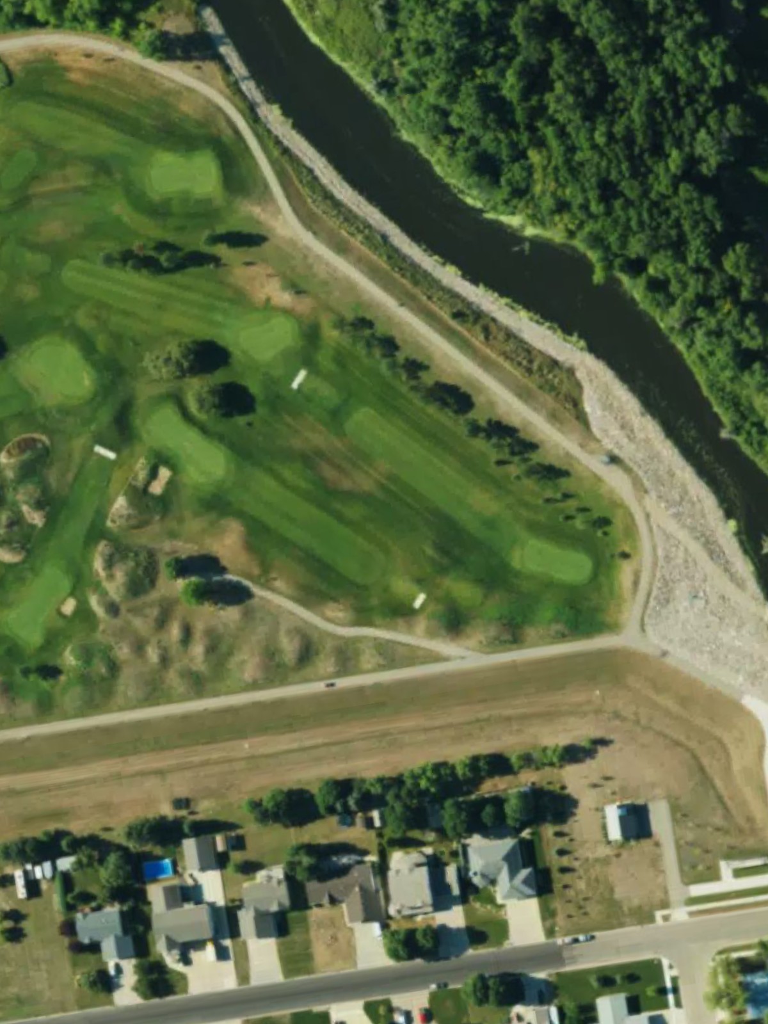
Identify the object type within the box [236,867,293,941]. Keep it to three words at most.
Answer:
house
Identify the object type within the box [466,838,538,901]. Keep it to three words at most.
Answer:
house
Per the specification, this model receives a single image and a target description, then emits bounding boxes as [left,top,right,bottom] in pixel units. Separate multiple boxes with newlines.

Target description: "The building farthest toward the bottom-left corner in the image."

[76,910,135,963]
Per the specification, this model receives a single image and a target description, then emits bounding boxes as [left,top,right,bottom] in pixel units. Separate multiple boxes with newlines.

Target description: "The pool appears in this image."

[143,858,173,880]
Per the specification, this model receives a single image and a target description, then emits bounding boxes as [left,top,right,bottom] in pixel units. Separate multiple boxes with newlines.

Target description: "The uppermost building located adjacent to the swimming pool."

[182,836,219,873]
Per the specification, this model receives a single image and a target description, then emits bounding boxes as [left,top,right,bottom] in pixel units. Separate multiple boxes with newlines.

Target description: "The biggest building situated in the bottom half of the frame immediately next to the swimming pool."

[146,881,215,955]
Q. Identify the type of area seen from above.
golf course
